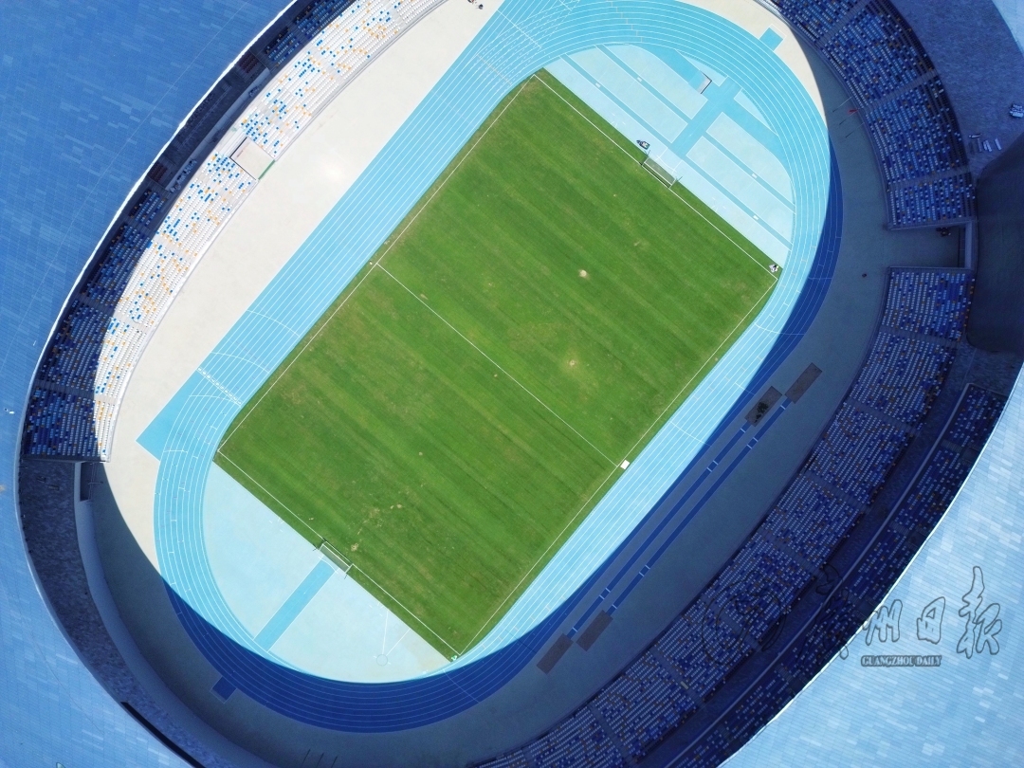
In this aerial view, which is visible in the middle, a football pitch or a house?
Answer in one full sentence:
Looking in the middle, you will find a football pitch.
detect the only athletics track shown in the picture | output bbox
[137,0,843,732]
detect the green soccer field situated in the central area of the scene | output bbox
[213,67,783,662]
